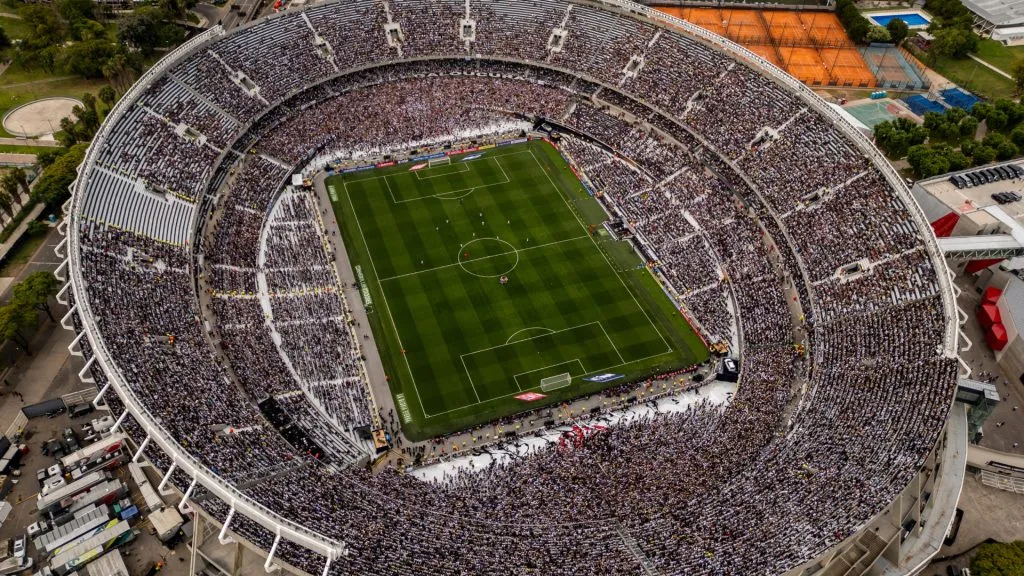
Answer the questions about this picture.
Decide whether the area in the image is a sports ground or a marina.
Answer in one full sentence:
It's a sports ground.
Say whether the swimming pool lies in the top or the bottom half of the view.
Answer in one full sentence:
The top half of the photo is where the swimming pool is.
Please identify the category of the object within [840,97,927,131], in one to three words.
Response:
sports court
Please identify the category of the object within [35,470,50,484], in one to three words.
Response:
vehicle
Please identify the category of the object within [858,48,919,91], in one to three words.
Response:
tennis court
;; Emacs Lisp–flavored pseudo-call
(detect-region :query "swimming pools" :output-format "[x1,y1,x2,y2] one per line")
[859,9,935,30]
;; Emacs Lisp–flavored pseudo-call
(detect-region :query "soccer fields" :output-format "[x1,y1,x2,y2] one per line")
[321,137,714,441]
